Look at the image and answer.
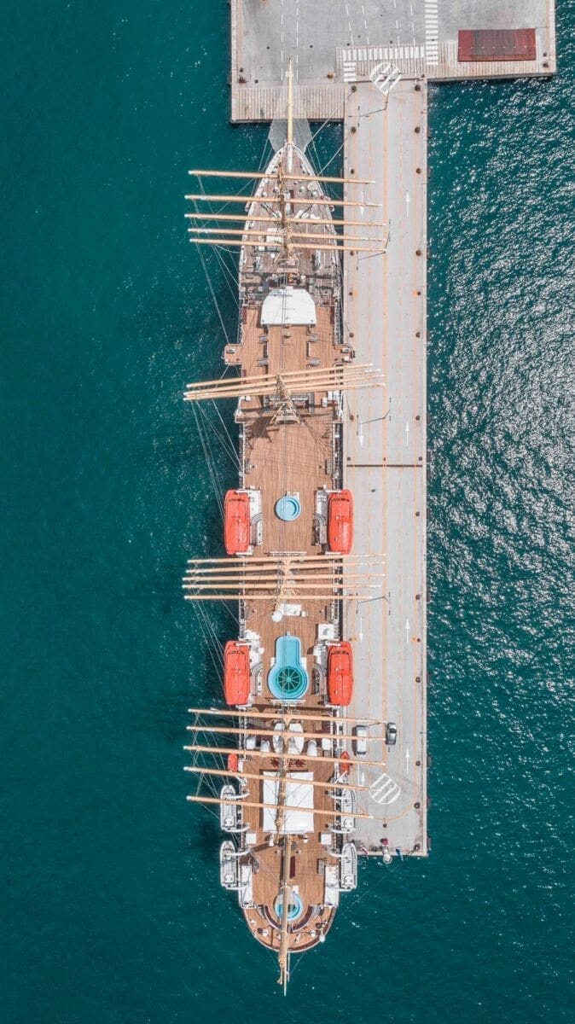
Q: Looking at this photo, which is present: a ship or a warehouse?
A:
ship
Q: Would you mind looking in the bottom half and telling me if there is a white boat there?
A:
Yes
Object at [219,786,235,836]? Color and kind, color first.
white boat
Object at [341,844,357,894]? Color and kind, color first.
white boat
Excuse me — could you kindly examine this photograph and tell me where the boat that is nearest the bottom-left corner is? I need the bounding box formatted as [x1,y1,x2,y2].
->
[219,841,235,892]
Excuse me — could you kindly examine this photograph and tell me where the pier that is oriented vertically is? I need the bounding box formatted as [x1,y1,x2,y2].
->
[343,62,431,856]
